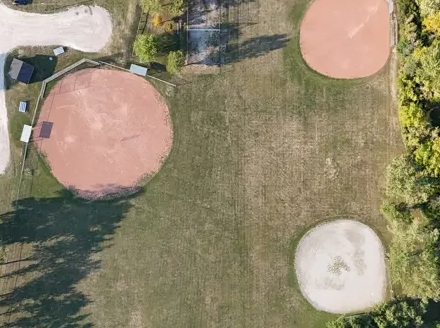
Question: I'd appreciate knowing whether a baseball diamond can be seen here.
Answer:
Yes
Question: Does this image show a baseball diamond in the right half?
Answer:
Yes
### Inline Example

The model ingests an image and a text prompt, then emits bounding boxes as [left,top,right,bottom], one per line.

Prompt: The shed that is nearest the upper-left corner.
[7,58,35,85]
